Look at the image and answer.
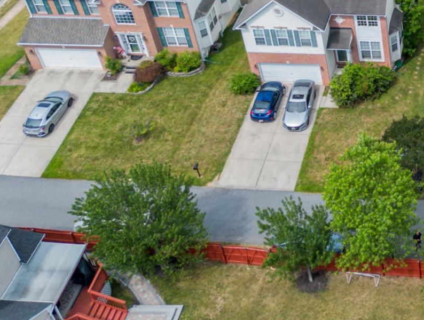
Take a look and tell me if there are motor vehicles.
Yes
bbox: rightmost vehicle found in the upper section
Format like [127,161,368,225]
[283,80,315,128]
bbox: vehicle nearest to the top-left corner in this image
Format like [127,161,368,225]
[21,90,72,133]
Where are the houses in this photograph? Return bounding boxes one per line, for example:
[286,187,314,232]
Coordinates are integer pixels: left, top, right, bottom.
[234,0,414,87]
[0,224,130,320]
[12,0,233,75]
